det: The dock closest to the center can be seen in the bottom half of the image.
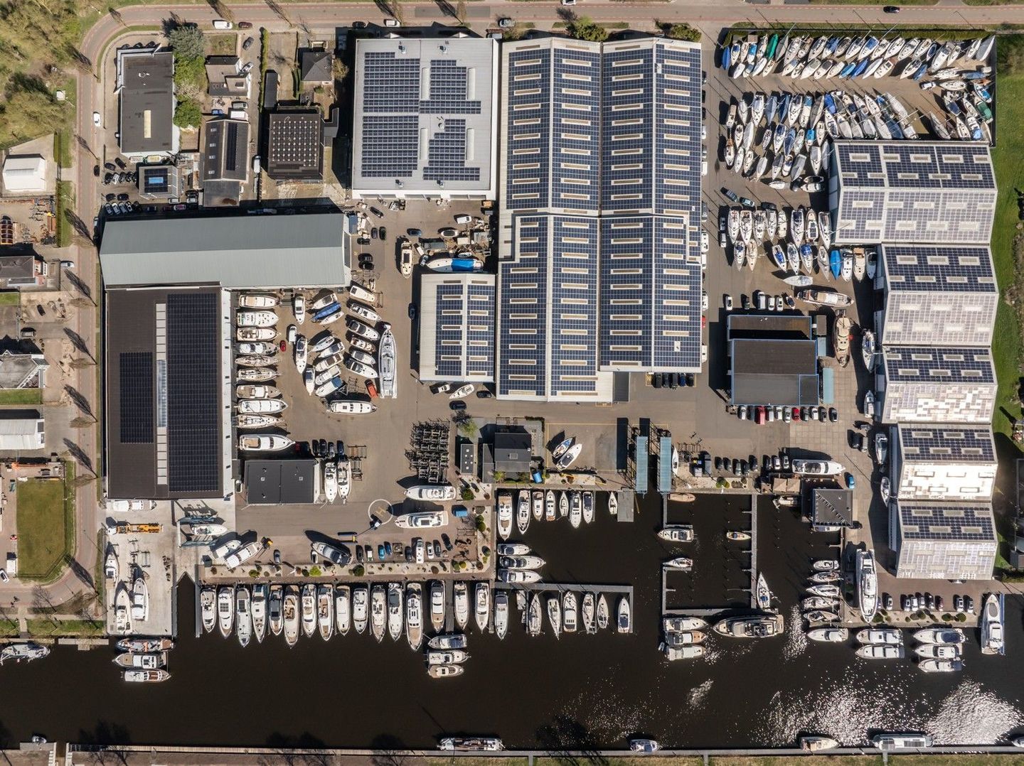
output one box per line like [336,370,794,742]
[618,491,634,522]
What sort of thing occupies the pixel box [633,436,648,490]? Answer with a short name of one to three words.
shed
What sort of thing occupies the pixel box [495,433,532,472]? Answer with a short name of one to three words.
building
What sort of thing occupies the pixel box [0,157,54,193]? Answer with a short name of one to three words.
barn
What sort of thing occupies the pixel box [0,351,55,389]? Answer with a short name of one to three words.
house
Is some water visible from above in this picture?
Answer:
Yes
